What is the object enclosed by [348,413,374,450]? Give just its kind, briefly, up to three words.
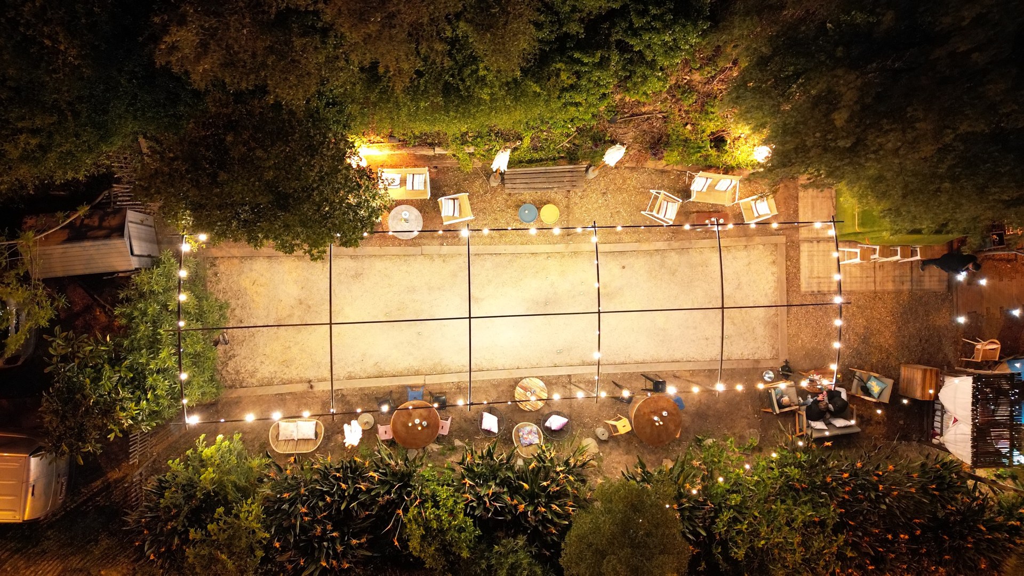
umbrella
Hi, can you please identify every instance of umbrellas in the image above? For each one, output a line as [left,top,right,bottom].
[348,413,374,450]
[586,140,627,177]
[490,140,518,187]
